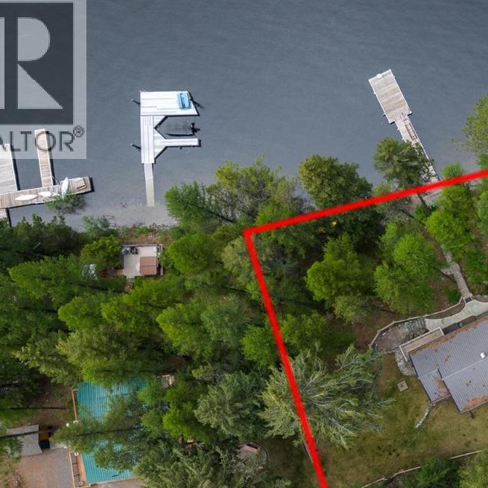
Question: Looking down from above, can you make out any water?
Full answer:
Yes, water shows up in the scene.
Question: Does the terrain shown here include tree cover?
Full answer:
Yes, tree cover can be seen from above here.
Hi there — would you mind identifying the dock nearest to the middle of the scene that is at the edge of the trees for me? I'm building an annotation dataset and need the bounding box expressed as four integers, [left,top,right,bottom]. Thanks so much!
[129,91,200,207]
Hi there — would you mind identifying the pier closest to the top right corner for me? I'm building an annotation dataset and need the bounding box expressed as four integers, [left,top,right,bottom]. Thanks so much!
[368,70,441,185]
